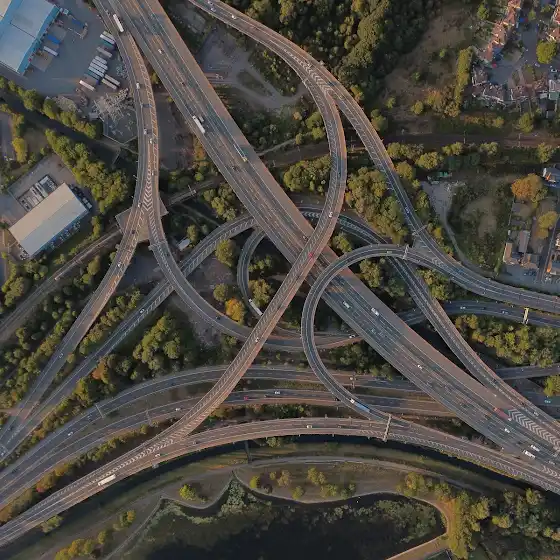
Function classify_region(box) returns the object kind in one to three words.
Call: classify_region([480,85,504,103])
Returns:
house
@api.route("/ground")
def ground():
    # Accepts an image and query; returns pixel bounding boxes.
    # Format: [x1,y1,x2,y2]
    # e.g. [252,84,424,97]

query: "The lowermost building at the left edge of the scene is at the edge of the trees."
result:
[9,183,91,256]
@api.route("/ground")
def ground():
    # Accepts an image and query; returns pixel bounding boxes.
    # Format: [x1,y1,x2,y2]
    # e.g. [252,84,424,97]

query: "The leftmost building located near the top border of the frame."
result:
[0,0,66,76]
